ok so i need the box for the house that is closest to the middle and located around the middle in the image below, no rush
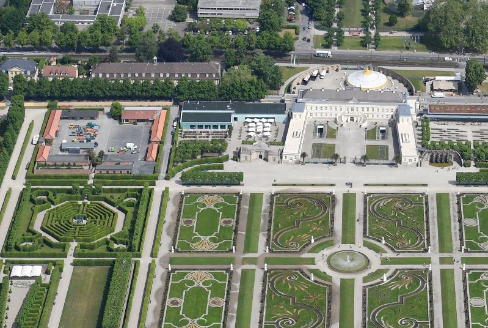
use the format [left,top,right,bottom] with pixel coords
[239,135,282,163]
